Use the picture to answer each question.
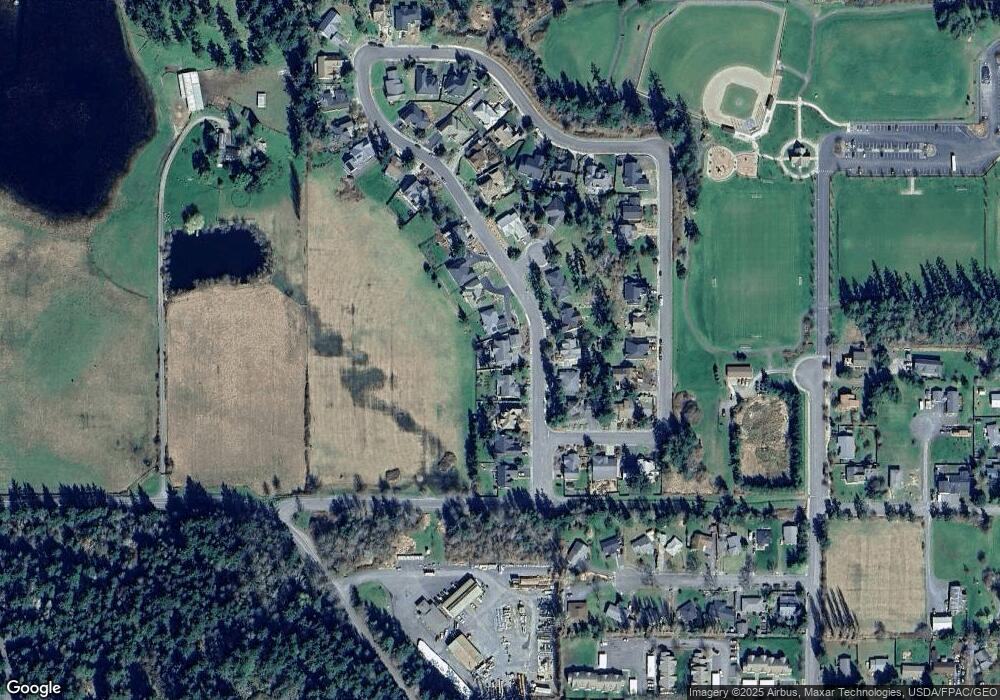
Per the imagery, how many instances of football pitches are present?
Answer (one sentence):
In total, there are 2 football pitches in the scene.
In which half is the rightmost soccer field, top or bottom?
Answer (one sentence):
The top half of the photo is where the rightmost soccer field is.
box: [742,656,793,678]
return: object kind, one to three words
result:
building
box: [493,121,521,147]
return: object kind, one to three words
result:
house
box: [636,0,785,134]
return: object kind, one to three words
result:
baseball field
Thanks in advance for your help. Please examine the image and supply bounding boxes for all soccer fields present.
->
[687,181,811,346]
[839,178,984,290]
